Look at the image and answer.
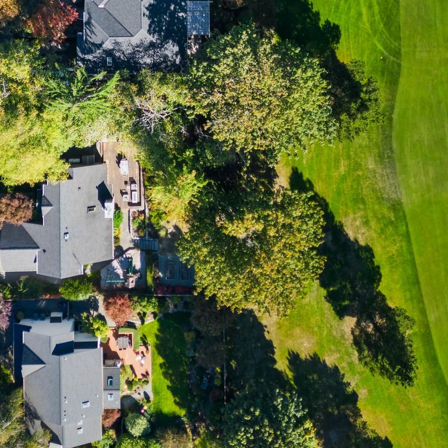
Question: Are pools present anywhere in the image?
No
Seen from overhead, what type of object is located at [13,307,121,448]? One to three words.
house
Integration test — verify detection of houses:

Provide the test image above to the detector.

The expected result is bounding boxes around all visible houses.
[76,0,188,74]
[13,307,121,448]
[0,160,116,275]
